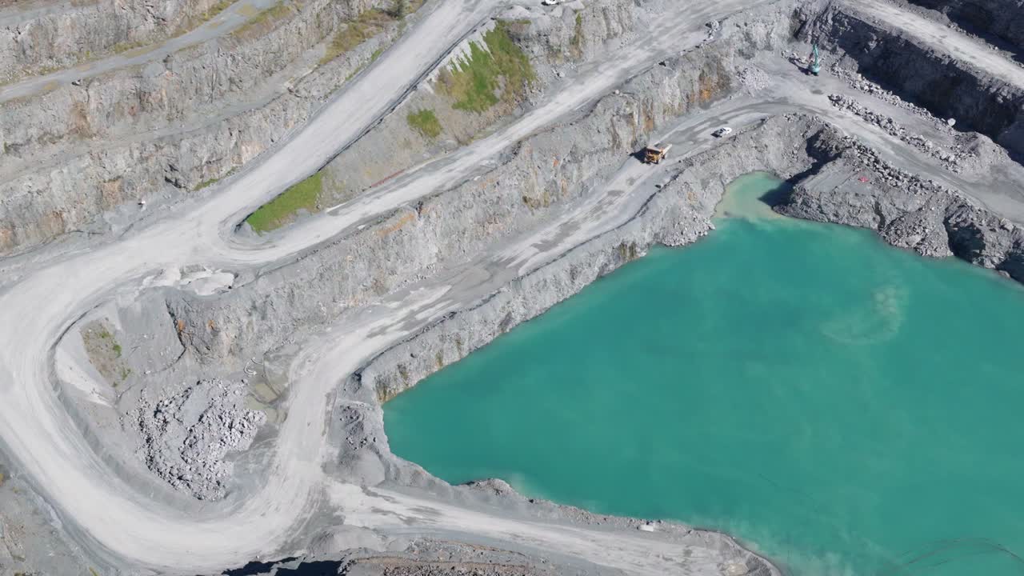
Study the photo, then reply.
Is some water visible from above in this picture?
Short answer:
Yes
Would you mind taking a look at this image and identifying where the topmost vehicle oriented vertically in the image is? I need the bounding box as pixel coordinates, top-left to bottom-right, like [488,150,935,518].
[809,50,821,76]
